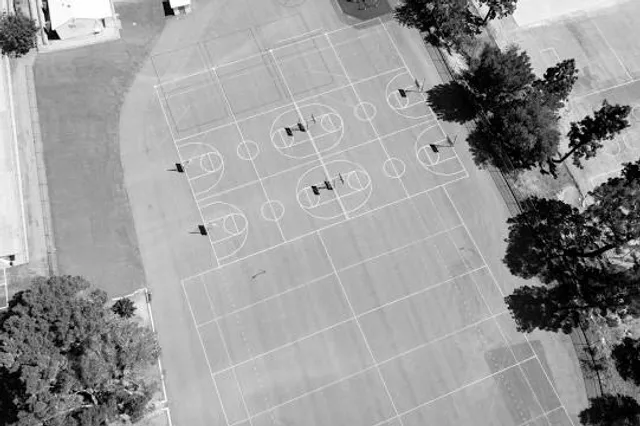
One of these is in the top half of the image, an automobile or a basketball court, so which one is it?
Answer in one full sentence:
You can see a basketball court in the top half of the image.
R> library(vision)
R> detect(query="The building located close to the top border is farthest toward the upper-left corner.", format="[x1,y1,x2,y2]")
[46,0,124,42]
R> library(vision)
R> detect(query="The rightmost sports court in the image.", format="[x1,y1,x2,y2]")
[488,0,640,211]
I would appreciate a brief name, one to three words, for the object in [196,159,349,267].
basketball court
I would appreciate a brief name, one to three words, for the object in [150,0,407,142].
sports court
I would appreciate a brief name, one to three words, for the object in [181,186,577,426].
sports court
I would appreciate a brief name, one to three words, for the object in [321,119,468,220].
basketball court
